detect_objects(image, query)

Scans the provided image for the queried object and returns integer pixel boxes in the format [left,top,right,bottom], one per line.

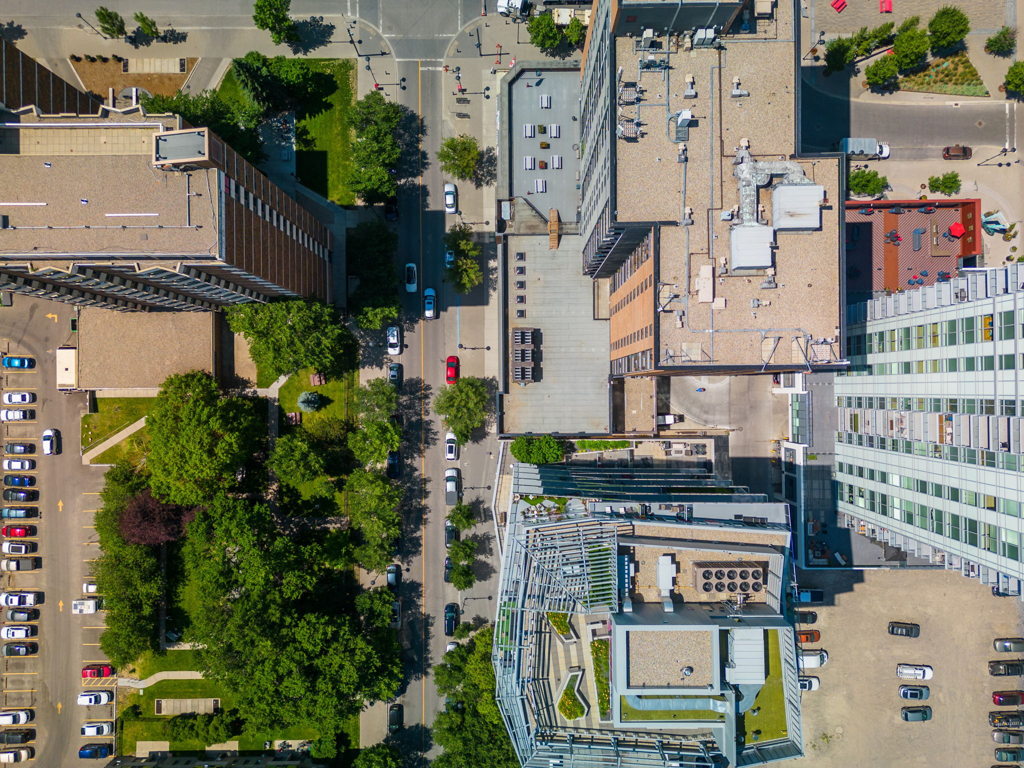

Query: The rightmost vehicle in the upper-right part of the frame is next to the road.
[941,145,972,160]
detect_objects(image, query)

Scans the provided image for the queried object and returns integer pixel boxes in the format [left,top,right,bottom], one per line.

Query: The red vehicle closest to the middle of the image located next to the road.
[446,355,459,385]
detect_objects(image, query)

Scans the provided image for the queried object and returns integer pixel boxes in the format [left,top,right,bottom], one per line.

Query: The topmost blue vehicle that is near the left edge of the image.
[2,355,32,369]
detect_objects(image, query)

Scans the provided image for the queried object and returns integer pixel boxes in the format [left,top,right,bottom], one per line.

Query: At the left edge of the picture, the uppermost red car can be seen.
[2,524,33,538]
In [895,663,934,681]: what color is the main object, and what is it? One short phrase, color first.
white car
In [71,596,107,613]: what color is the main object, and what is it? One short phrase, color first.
white camper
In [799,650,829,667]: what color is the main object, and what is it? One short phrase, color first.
white vehicle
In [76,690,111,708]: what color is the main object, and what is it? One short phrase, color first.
white car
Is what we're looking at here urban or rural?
urban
